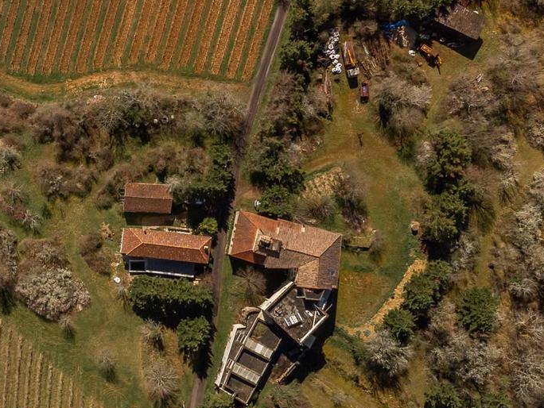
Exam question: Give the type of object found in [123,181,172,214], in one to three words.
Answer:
shed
